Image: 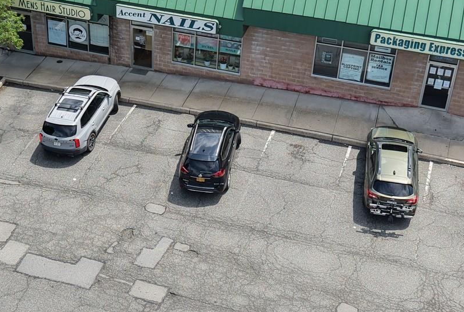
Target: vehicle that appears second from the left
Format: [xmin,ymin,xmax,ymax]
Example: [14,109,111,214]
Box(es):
[178,111,248,198]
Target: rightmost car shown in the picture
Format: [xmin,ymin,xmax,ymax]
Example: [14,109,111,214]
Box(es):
[359,138,426,235]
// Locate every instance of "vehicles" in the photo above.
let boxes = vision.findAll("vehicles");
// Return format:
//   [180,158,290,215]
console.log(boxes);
[36,75,121,160]
[178,111,248,198]
[359,138,426,235]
